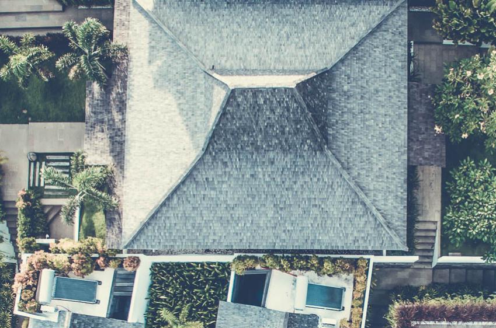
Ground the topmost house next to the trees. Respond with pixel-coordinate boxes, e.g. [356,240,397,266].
[85,0,446,269]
